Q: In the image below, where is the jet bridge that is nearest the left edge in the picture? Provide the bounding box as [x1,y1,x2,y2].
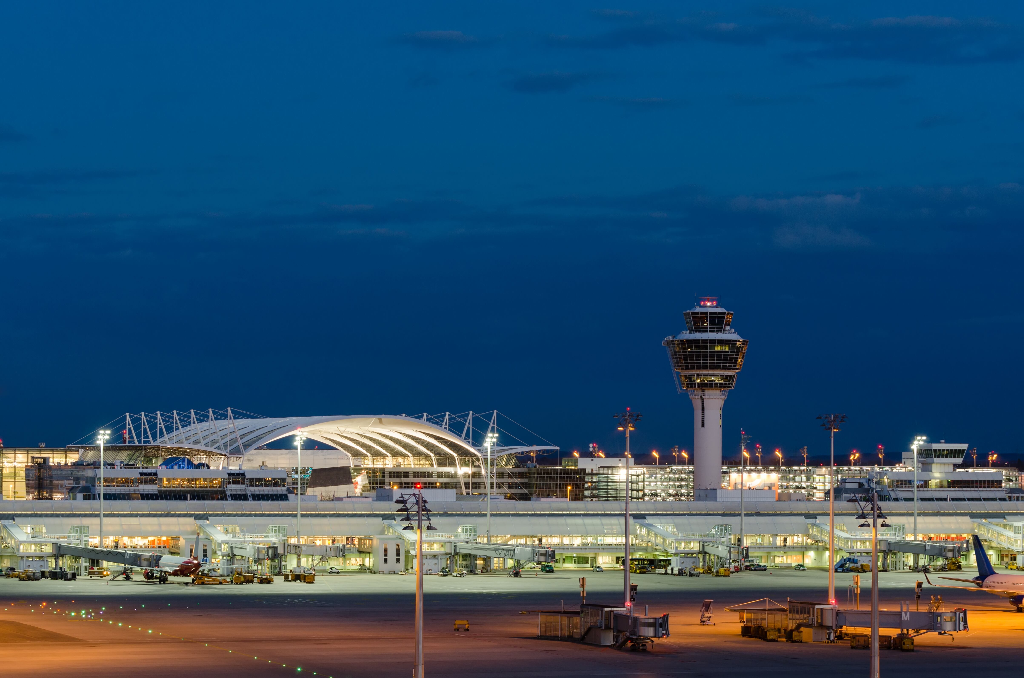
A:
[79,547,162,578]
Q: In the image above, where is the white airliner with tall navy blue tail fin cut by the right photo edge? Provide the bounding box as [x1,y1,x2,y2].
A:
[942,534,1024,598]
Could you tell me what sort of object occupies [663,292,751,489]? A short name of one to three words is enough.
building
